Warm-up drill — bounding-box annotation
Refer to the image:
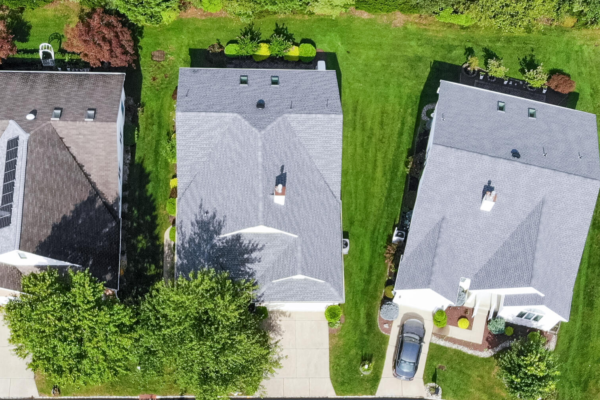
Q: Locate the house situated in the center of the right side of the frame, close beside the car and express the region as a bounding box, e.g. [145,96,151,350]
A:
[390,79,600,336]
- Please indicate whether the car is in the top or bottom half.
bottom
